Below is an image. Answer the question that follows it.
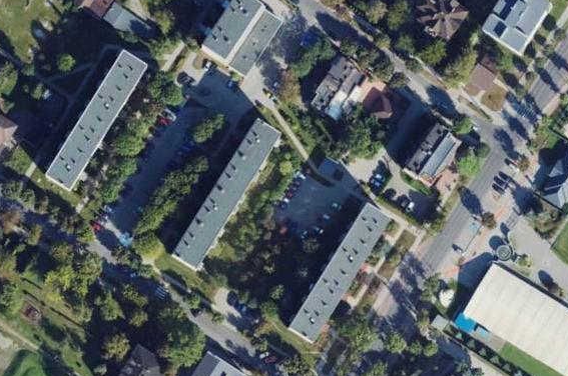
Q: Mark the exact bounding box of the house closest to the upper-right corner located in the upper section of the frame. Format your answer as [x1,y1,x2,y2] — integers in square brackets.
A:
[481,0,553,58]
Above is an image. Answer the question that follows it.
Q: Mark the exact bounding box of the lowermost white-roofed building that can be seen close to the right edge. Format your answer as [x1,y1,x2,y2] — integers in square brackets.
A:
[455,263,568,376]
